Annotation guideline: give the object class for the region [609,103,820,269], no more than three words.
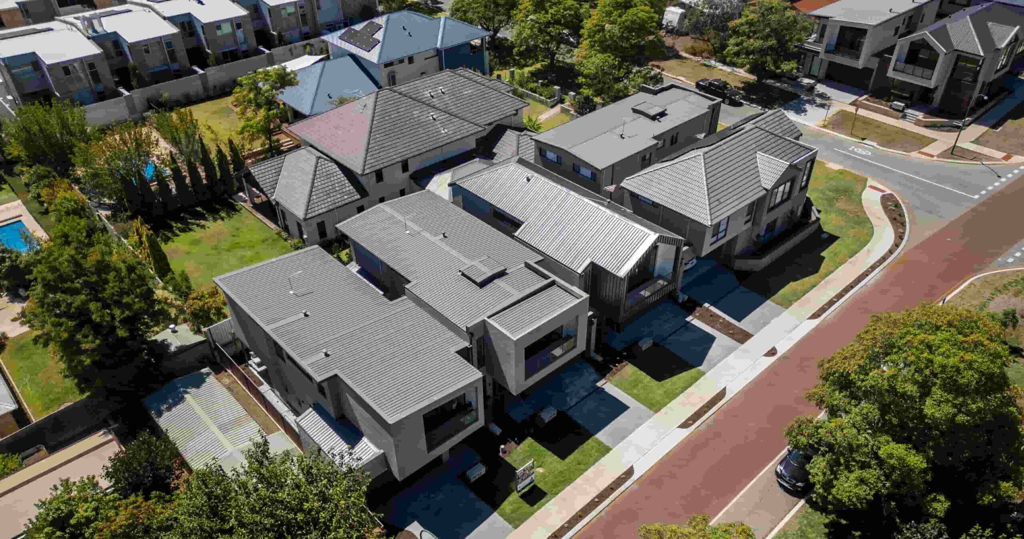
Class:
house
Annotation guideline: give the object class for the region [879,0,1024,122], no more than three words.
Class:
house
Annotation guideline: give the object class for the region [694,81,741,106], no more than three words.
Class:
truck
